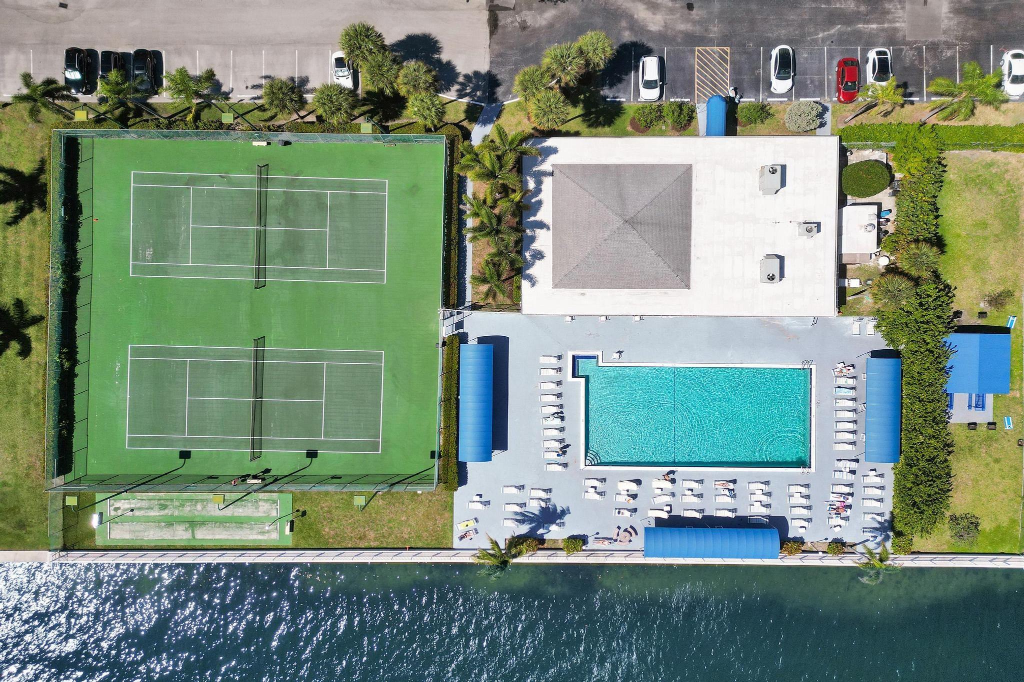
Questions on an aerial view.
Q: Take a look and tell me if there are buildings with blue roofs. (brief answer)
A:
Yes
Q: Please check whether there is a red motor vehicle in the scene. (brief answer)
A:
Yes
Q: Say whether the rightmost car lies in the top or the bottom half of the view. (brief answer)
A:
top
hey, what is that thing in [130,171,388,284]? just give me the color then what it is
green tennis court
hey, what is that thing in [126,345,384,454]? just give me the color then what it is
green tennis court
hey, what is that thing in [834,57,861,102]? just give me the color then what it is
red car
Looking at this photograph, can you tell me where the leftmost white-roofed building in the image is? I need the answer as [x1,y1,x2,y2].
[521,136,839,317]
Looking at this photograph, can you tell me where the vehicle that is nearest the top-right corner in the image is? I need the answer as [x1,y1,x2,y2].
[999,48,1024,97]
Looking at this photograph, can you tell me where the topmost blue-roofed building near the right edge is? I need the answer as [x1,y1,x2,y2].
[938,333,1010,394]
